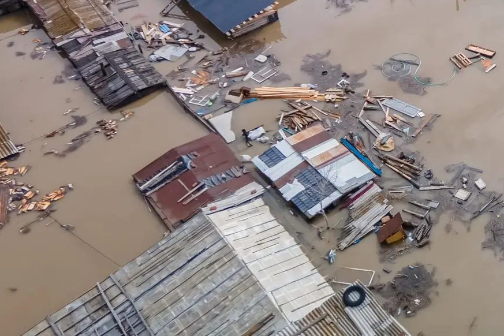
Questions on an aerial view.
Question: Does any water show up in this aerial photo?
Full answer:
Yes, the picture does contain water.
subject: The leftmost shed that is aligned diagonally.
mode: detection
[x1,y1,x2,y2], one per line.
[21,0,168,112]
